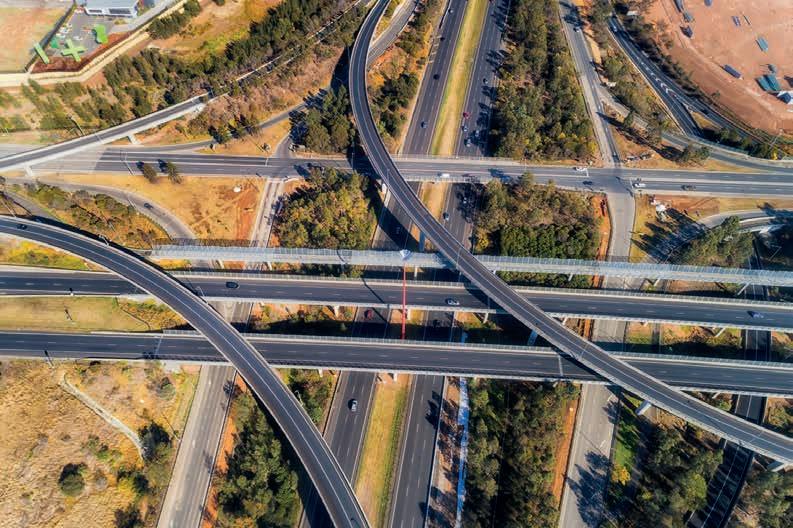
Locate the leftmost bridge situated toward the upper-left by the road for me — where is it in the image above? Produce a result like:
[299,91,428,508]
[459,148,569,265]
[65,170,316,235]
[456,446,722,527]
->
[0,88,223,170]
